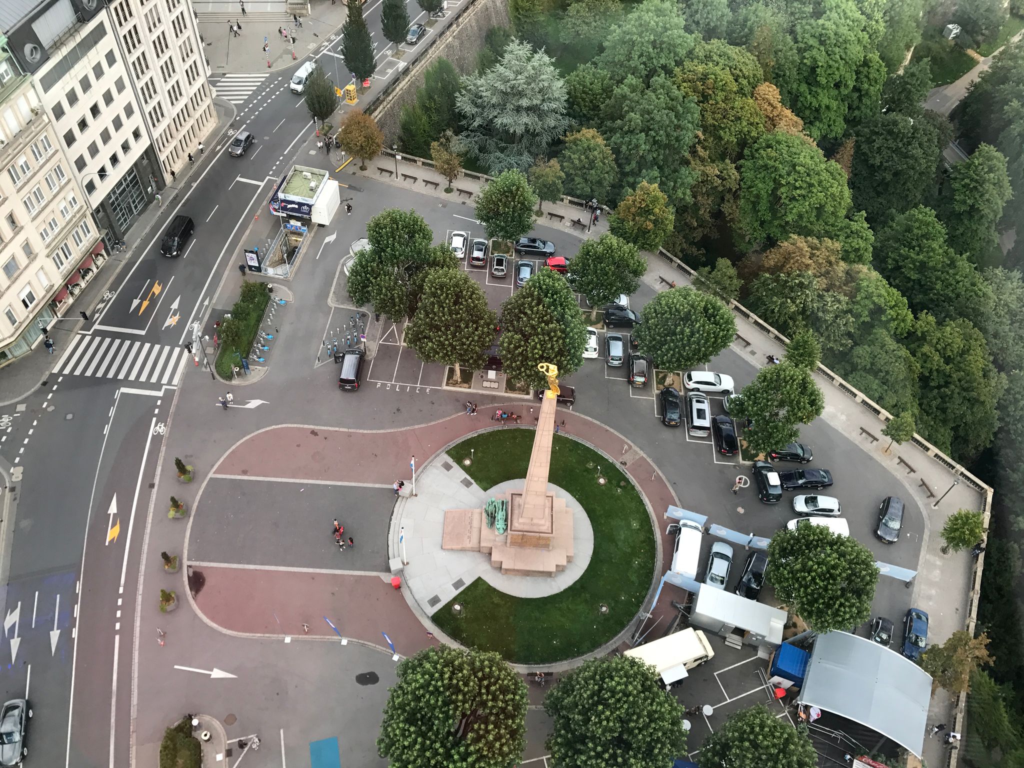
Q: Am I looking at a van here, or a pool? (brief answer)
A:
van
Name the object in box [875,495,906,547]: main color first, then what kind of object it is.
gray car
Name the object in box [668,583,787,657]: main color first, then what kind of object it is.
white trailer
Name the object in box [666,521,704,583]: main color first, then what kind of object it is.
white van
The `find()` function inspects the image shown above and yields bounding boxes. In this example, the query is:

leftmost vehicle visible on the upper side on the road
[163,214,197,258]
